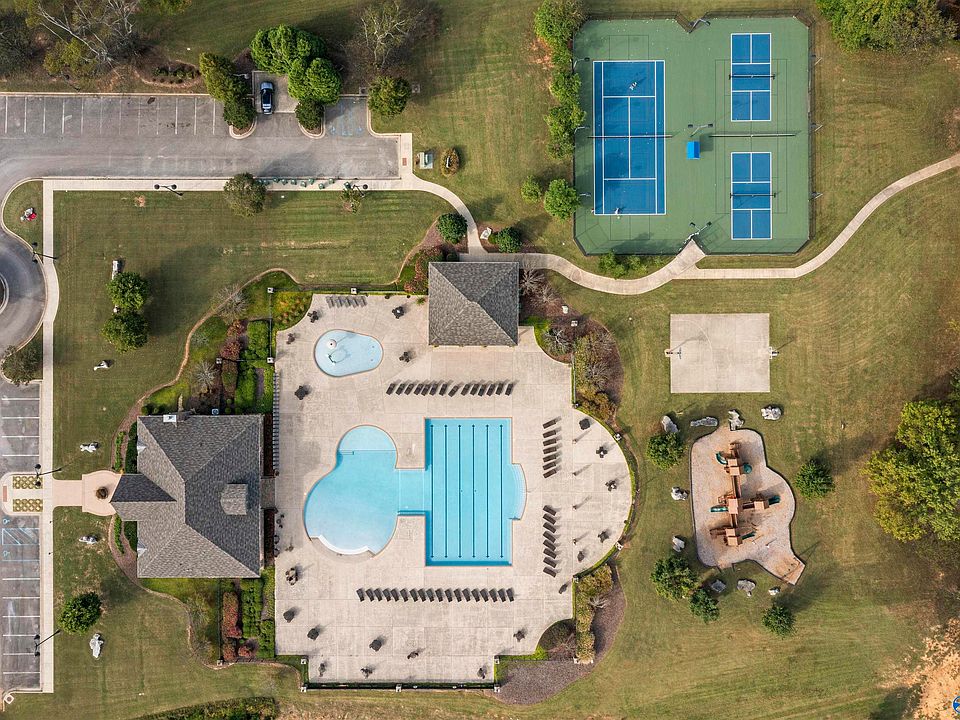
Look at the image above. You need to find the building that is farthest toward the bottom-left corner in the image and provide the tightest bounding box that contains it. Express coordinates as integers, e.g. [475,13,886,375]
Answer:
[110,413,264,578]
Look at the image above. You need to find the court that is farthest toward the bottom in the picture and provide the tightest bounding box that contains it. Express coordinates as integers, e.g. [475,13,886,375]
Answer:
[670,314,771,392]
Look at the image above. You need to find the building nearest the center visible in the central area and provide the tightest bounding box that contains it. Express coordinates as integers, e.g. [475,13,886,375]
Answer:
[428,262,520,348]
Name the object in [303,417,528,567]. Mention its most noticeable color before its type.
blue swimming pool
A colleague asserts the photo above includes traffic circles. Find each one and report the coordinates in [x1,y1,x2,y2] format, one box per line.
[0,233,44,351]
